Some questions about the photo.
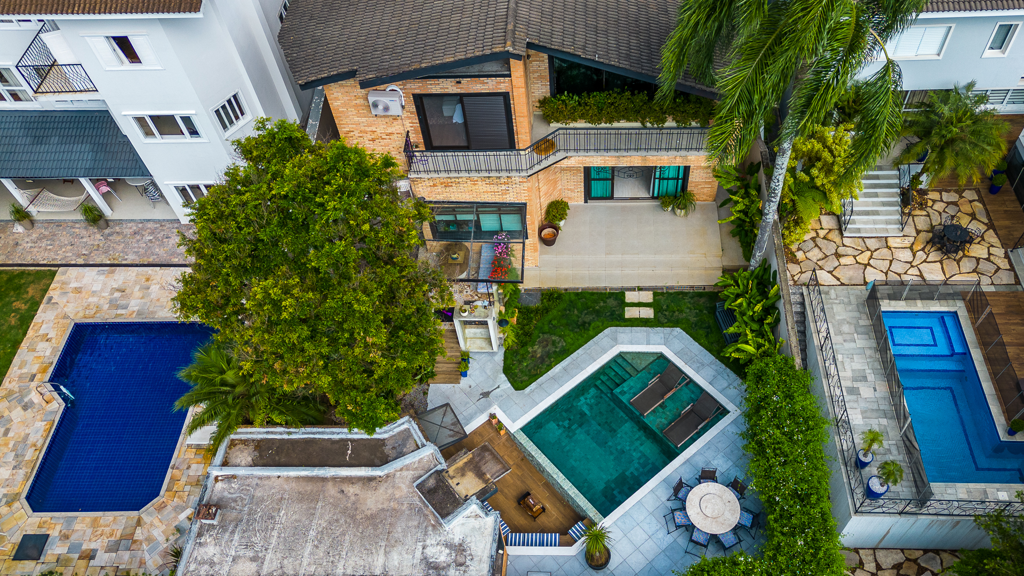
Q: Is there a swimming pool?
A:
Yes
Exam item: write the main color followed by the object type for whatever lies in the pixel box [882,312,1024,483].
blue swimming pool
